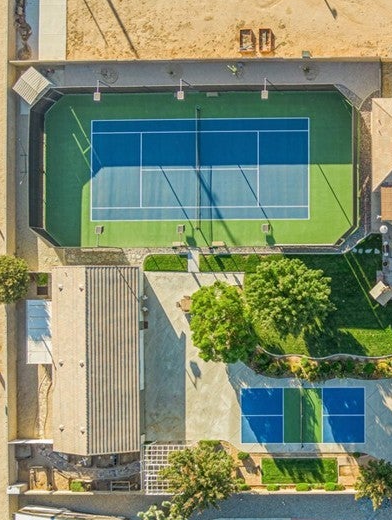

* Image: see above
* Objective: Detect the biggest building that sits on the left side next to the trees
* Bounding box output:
[52,265,149,456]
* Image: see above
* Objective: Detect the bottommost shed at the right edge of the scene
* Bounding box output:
[367,279,392,307]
